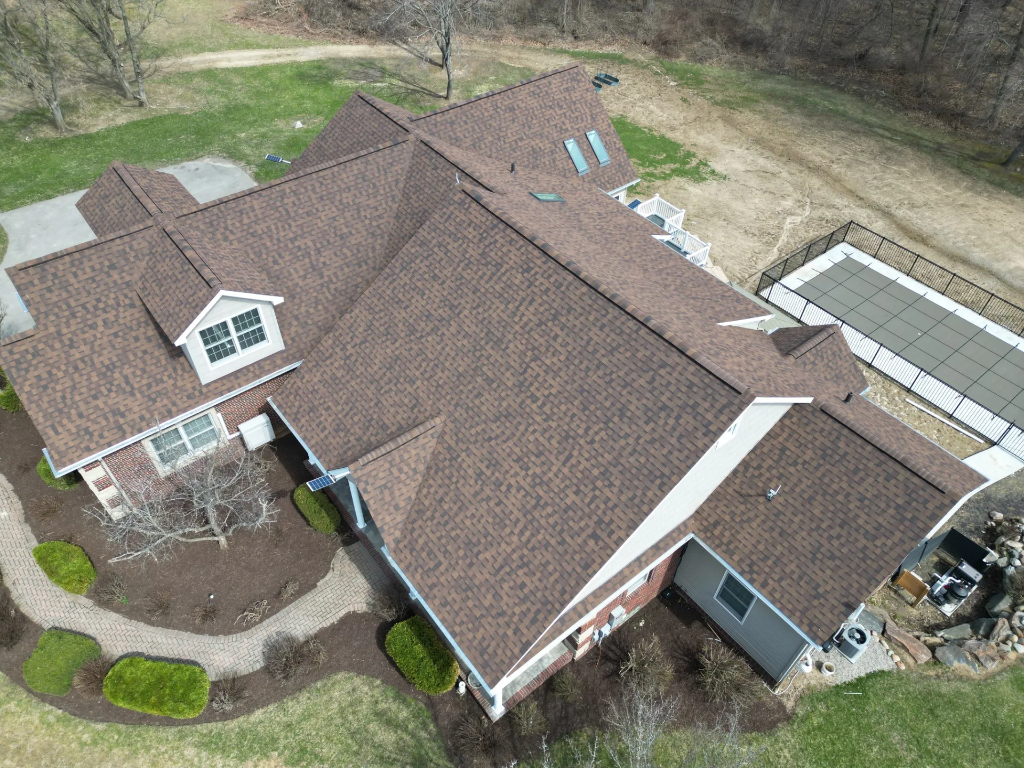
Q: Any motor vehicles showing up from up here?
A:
No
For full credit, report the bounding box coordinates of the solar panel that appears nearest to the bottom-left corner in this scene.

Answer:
[309,475,333,491]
